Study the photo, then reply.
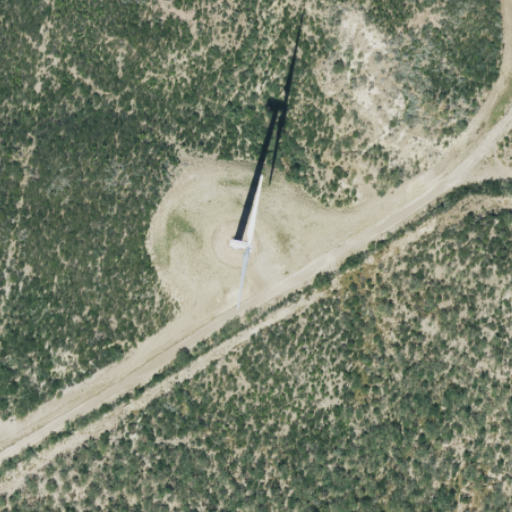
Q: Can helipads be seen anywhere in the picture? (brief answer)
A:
No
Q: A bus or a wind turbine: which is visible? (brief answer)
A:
wind turbine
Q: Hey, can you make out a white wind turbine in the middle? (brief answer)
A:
Yes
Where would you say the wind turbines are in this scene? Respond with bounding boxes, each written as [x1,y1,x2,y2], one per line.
[228,177,262,310]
